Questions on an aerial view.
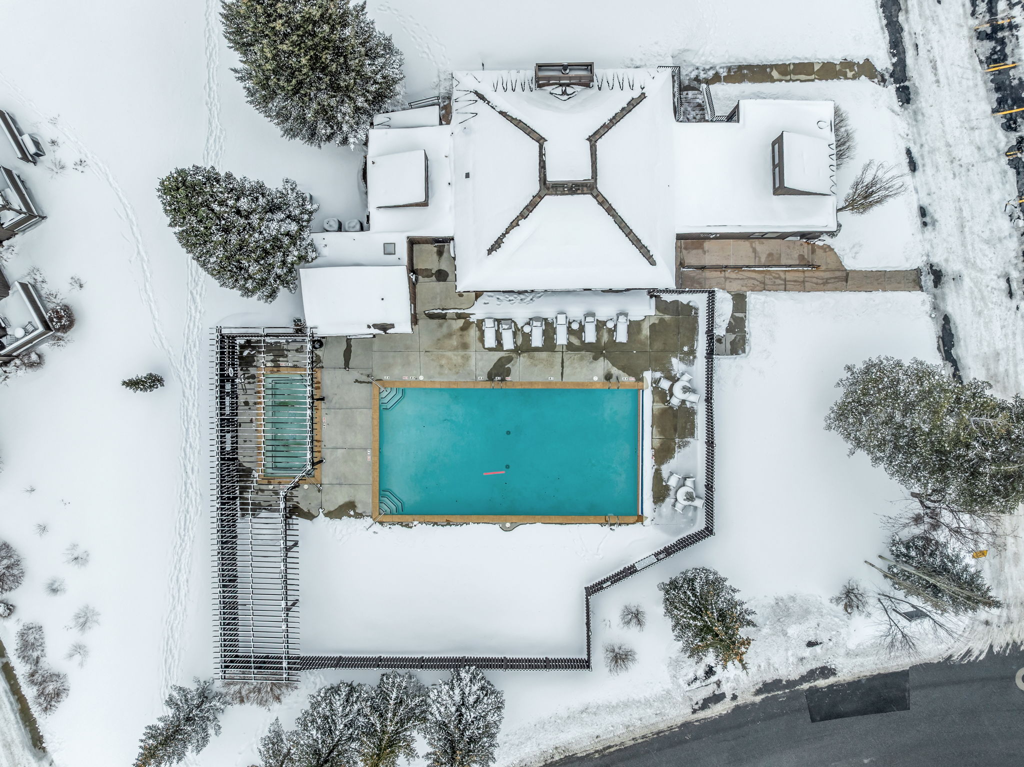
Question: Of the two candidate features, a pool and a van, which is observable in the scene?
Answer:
pool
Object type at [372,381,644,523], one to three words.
swimming pool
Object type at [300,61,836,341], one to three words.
building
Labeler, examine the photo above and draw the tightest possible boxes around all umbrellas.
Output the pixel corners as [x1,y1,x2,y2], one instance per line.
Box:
[681,492,695,504]
[677,385,691,397]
